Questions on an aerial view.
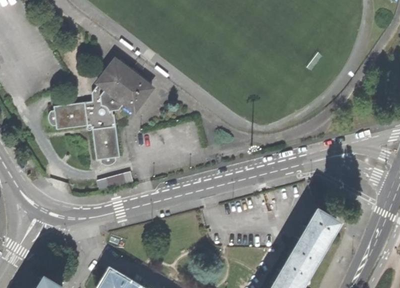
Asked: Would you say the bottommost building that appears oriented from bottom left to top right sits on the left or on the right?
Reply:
right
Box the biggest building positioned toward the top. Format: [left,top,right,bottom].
[48,58,155,166]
